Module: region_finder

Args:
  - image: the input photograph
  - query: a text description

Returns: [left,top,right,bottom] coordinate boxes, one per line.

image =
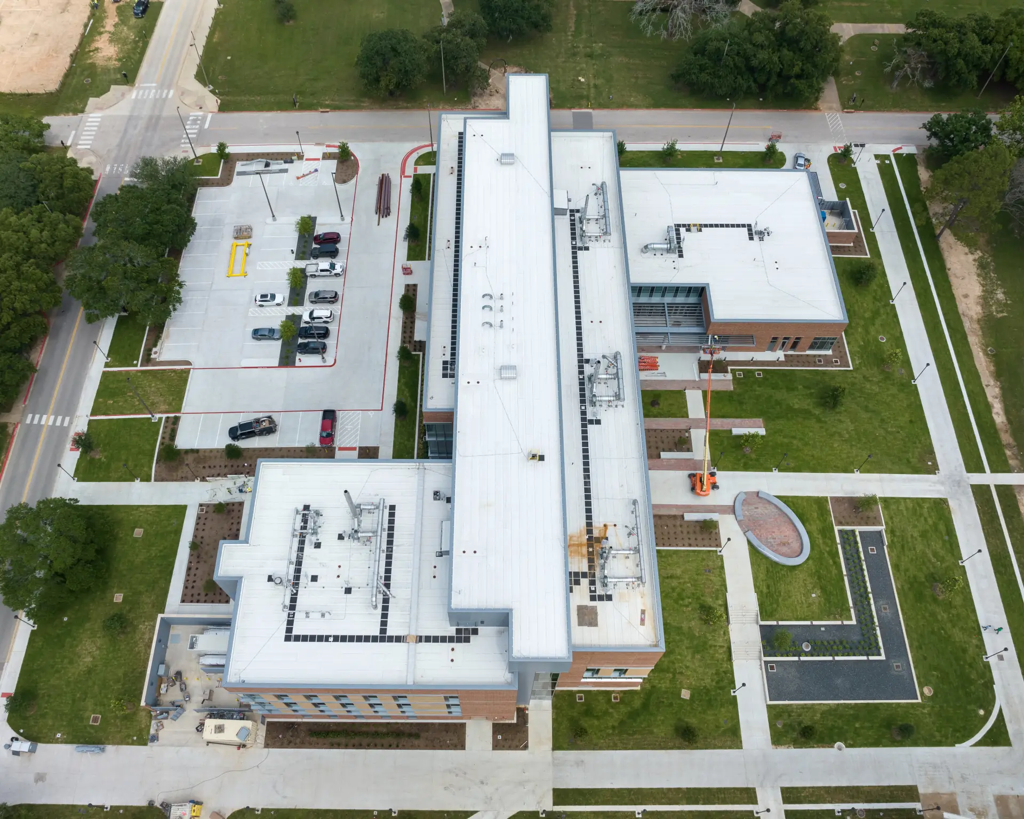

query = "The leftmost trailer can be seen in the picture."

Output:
[0,735,40,758]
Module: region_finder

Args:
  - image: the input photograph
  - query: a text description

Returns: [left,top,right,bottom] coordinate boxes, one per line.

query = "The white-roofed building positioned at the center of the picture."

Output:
[214,74,849,719]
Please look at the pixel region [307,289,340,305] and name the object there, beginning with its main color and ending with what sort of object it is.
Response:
gray car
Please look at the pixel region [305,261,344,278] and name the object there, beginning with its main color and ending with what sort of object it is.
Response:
white vehicle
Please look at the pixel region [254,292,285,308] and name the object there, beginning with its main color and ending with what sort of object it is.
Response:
white car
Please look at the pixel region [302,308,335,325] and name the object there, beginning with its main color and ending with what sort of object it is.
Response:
white car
